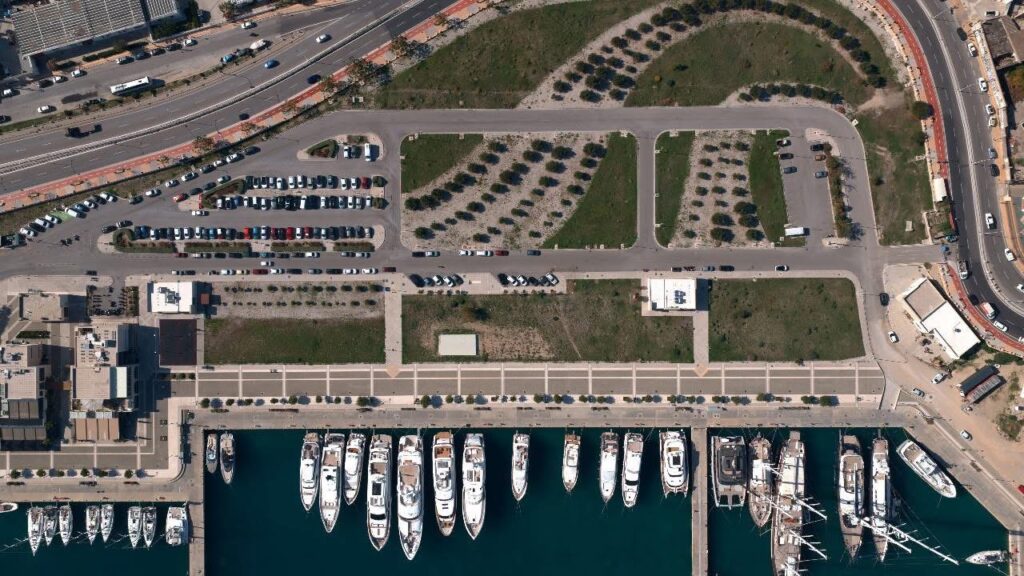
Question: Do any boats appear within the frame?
Yes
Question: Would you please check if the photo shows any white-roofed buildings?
Yes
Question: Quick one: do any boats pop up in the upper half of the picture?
No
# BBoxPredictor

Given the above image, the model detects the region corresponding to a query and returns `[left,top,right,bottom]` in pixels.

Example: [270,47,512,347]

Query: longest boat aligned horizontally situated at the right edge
[965,549,1019,574]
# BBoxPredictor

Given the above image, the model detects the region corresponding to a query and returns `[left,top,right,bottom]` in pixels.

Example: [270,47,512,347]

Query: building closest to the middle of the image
[647,279,696,310]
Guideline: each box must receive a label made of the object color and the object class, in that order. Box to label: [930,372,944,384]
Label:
white vehicle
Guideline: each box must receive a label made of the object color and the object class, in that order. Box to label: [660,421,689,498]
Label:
white boat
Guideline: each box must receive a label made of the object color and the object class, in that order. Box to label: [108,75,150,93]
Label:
white vehicle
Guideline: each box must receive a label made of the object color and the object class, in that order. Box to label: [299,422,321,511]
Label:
white boat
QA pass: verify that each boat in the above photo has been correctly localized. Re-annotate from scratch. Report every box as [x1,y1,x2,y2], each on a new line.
[125,500,157,550]
[837,425,910,559]
[320,423,346,533]
[871,428,958,563]
[432,421,457,537]
[0,503,18,513]
[396,424,425,561]
[965,549,1019,574]
[367,424,395,552]
[206,433,218,473]
[462,432,487,540]
[0,500,44,556]
[711,426,755,507]
[79,498,115,542]
[109,500,143,548]
[895,439,956,498]
[149,497,189,546]
[597,421,619,503]
[36,500,74,546]
[20,499,58,546]
[562,423,581,492]
[749,429,788,527]
[343,422,366,505]
[220,422,236,484]
[620,422,643,508]
[299,422,321,511]
[64,500,101,544]
[510,424,530,501]
[770,431,827,576]
[660,421,689,498]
